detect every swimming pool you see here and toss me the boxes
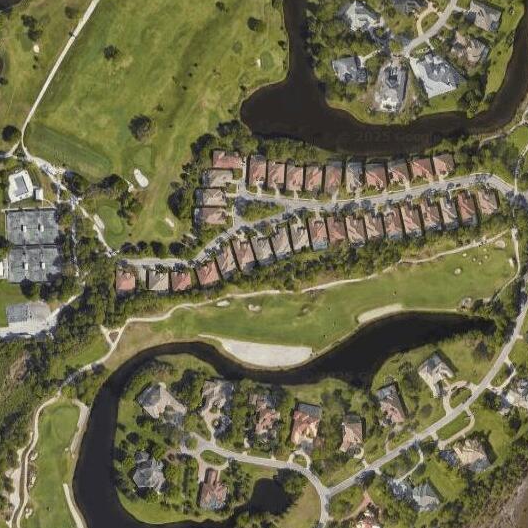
[9,171,33,203]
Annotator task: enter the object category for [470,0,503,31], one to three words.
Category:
house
